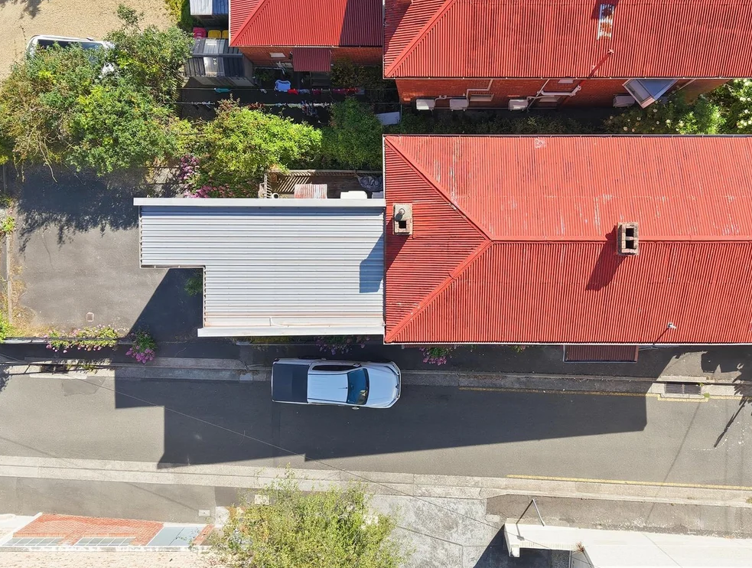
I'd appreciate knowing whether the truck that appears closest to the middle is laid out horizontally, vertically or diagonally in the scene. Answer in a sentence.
Seen from above, the truck that appears closest to the middle lies horizontally.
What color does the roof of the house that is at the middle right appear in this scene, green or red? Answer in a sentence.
In this view, the roof of the house that is at the middle right is red.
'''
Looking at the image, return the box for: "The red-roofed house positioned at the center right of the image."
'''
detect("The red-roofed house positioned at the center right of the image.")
[383,133,752,367]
